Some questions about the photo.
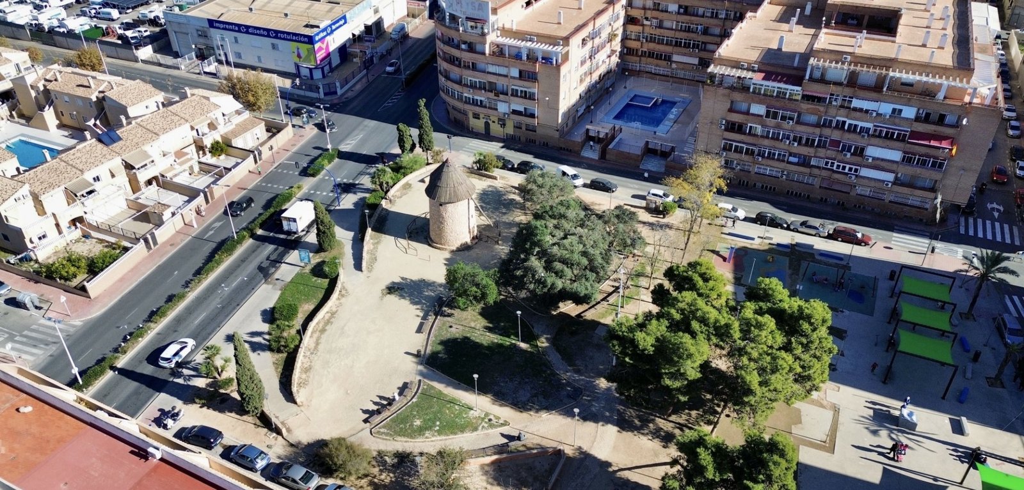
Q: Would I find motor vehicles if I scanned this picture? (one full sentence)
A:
Yes, a motor vehicle appears in the view.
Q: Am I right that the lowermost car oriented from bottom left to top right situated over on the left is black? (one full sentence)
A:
No, the lowermost car oriented from bottom left to top right situated over on the left is actually white.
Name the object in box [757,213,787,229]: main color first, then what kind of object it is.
black car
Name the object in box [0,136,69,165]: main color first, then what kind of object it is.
blue swimming pool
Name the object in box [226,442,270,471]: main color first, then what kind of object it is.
blue car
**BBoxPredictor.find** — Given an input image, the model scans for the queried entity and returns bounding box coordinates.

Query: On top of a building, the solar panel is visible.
[96,130,125,146]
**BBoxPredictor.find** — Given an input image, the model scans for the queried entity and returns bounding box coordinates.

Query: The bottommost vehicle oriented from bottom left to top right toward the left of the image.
[160,338,197,365]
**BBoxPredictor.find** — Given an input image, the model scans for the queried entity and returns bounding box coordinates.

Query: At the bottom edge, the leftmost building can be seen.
[0,354,289,490]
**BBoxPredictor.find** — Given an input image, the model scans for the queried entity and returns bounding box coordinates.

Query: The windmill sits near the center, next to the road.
[424,160,493,251]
